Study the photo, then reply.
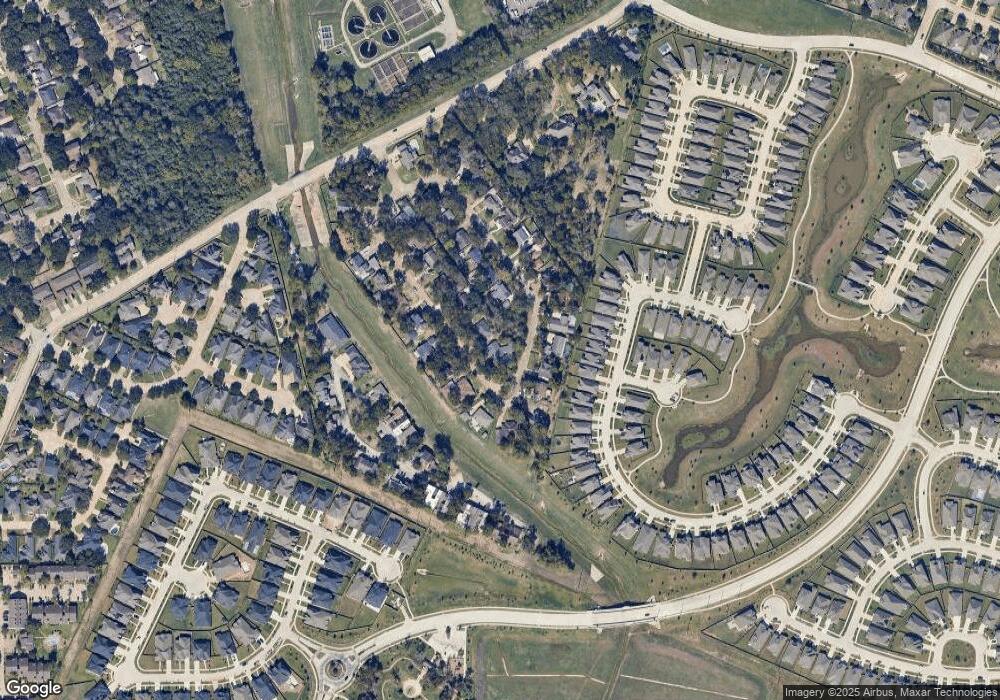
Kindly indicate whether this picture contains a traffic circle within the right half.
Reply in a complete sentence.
No, no traffic circle is visible within the right half.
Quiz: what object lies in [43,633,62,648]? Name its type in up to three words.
swimming pool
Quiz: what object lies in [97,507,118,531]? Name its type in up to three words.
house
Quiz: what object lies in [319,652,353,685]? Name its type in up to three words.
roundabout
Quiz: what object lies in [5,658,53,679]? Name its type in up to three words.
building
